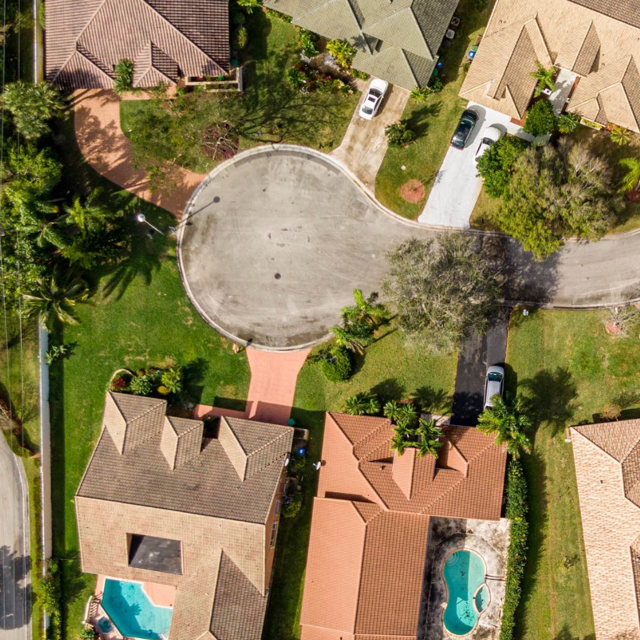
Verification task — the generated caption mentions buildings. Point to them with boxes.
[300,411,507,640]
[74,391,296,640]
[44,0,234,99]
[263,0,460,95]
[570,420,640,640]
[458,0,640,136]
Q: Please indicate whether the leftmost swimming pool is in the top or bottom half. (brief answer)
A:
bottom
